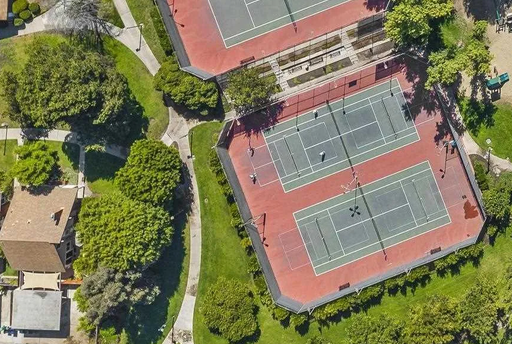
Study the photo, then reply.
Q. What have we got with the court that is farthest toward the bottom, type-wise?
tennis court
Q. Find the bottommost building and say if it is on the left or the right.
left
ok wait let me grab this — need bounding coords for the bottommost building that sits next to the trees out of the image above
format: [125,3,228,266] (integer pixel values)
[12,287,71,331]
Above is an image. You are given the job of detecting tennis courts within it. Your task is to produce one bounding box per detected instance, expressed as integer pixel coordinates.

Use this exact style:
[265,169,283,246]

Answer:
[166,0,388,75]
[228,57,454,217]
[252,139,483,307]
